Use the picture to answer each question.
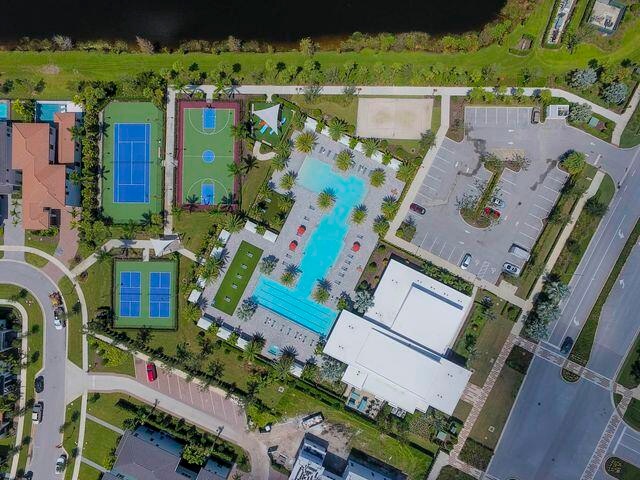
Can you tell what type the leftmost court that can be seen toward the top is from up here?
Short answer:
tennis court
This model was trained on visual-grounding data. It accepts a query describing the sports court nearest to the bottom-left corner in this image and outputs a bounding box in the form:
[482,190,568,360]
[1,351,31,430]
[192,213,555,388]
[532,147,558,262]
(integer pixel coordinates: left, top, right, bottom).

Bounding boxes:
[113,260,178,329]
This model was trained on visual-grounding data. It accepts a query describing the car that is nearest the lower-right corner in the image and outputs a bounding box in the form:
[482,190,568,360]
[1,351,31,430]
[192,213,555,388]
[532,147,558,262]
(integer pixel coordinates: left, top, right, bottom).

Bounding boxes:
[559,335,572,353]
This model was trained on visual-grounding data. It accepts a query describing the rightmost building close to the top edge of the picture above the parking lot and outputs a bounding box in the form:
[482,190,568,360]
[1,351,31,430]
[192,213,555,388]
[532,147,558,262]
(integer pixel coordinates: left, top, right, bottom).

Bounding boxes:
[589,0,629,32]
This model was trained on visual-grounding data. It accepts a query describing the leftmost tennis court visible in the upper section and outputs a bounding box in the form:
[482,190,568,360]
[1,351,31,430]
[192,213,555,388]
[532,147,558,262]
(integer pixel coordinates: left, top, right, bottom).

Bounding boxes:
[102,101,162,222]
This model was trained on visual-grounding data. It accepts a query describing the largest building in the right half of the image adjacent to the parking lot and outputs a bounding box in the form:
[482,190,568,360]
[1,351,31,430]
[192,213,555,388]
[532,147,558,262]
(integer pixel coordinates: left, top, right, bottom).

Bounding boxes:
[323,259,473,416]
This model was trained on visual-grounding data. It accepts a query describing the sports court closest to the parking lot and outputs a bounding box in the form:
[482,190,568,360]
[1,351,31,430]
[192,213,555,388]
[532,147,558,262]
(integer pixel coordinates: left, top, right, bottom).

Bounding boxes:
[356,97,434,139]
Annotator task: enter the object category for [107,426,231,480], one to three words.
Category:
house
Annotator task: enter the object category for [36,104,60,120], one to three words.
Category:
swimming pool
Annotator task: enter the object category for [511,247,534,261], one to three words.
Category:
vehicle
